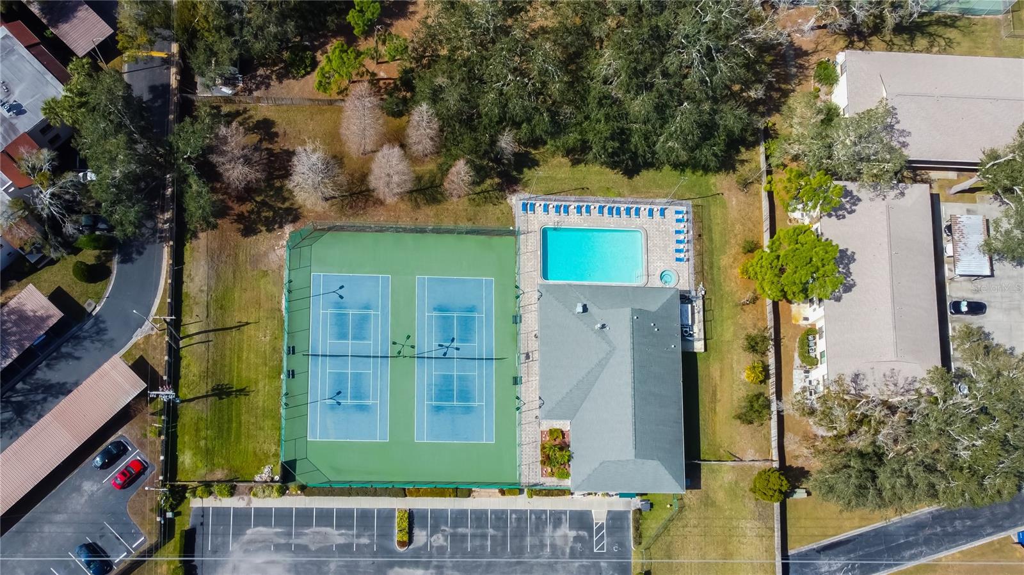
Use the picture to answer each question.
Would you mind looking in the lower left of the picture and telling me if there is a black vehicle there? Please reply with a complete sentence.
Yes, there is a black vehicle in the lower left of the picture.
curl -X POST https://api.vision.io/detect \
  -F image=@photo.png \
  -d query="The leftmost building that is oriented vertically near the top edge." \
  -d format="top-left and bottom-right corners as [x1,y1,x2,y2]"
[0,20,82,189]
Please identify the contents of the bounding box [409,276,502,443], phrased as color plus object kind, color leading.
blue tennis court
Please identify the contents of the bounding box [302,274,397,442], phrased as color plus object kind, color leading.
blue tennis court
